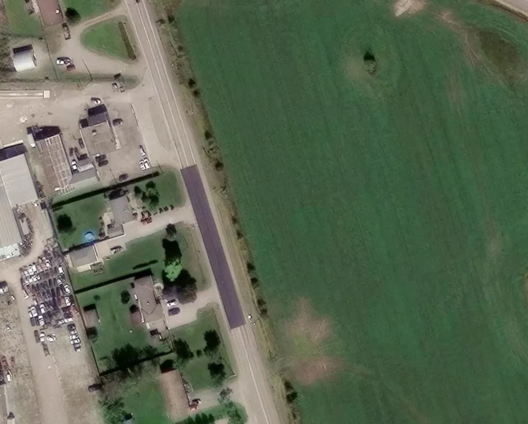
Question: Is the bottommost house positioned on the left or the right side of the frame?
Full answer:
The bottommost house appears in the left half of the scene.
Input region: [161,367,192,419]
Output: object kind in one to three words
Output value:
house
